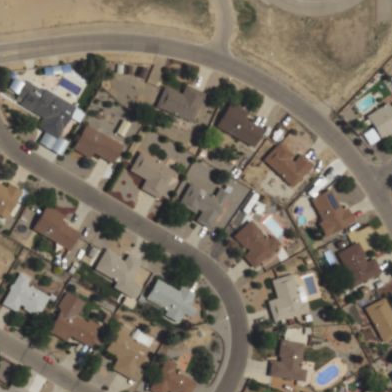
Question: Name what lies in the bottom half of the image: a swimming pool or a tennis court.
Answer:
swimming pool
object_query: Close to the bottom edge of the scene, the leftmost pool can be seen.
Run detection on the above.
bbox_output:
[312,360,343,388]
